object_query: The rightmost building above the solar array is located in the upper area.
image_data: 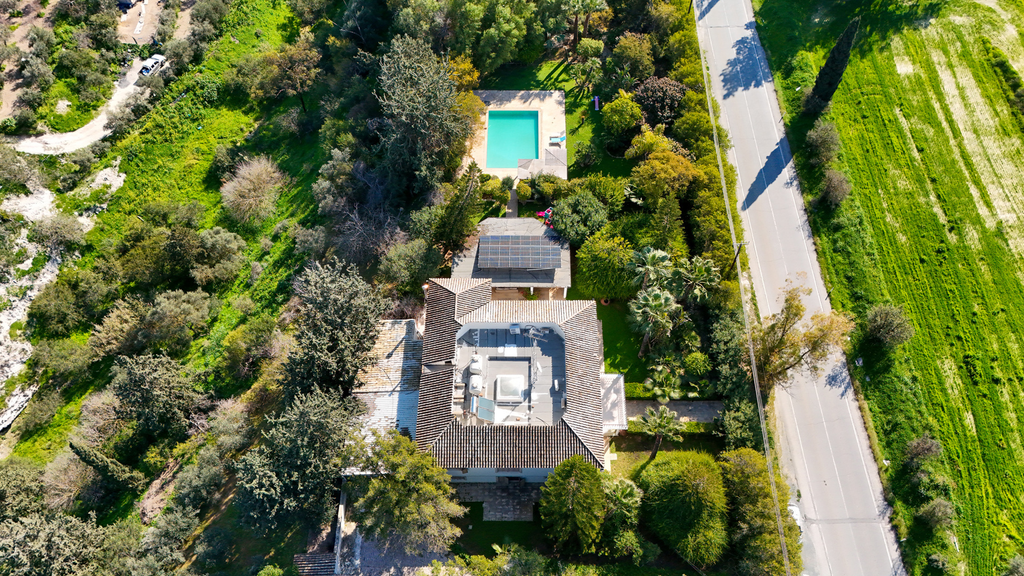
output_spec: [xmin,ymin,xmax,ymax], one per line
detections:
[518,149,568,190]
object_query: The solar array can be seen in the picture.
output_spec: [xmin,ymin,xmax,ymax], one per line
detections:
[478,235,562,272]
